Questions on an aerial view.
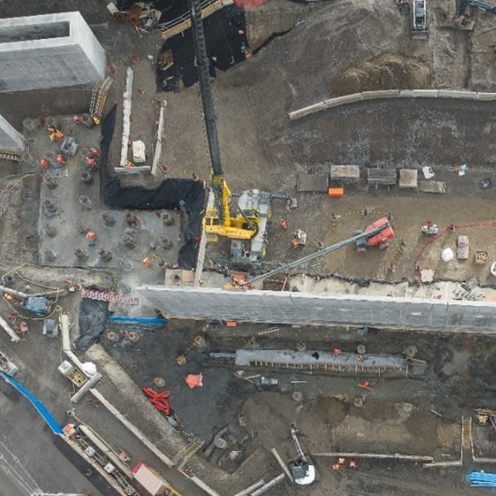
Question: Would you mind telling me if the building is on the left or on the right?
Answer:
left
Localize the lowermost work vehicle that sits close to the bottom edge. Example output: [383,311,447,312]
[283,423,320,496]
